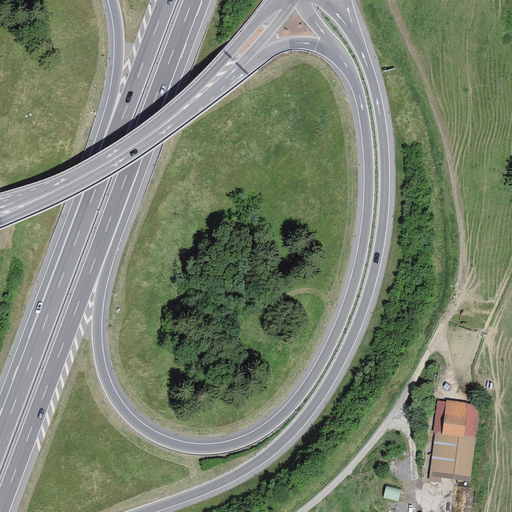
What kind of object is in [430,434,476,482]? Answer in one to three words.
shed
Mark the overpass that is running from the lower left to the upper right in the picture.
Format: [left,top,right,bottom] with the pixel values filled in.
[0,51,249,228]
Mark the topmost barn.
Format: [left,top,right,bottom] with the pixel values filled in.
[434,400,478,437]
